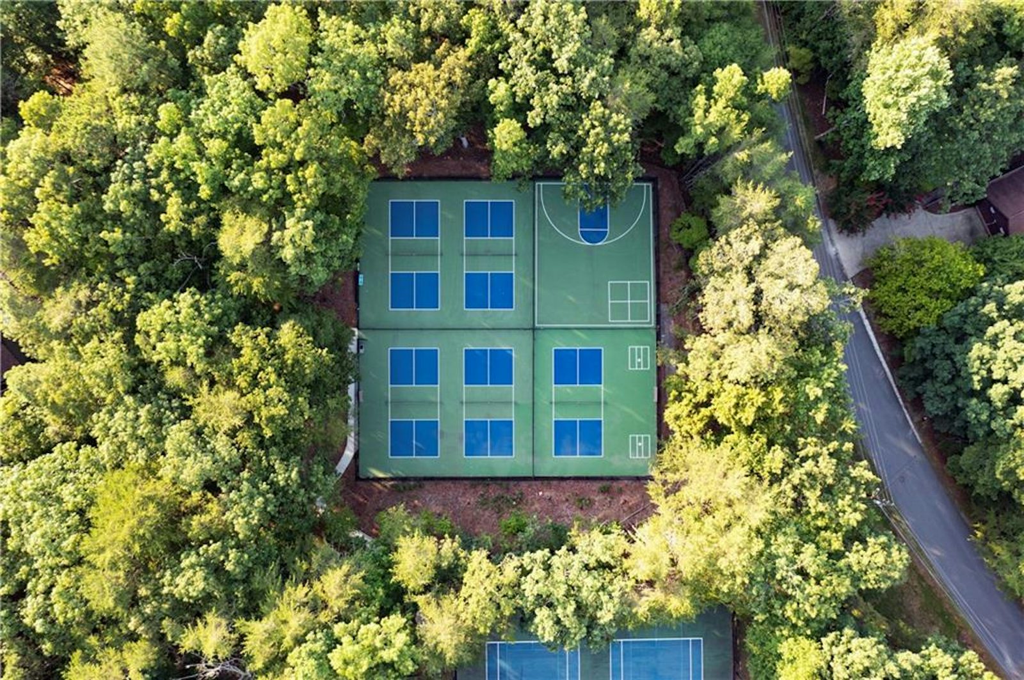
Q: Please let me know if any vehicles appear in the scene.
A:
No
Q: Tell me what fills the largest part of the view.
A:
trees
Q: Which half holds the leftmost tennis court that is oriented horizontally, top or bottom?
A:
bottom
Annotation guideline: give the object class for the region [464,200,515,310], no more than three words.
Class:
sports court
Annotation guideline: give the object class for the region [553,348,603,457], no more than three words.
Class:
sports court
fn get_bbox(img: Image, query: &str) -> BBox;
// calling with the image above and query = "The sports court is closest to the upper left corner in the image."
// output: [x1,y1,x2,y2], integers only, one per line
[390,200,440,310]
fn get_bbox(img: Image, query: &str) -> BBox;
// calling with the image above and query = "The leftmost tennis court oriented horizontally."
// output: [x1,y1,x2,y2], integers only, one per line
[487,642,580,680]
